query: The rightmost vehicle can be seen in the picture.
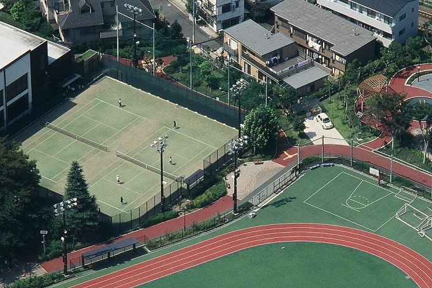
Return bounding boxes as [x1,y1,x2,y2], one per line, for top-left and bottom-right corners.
[315,112,334,129]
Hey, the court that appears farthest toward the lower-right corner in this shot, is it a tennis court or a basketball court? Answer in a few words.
basketball court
